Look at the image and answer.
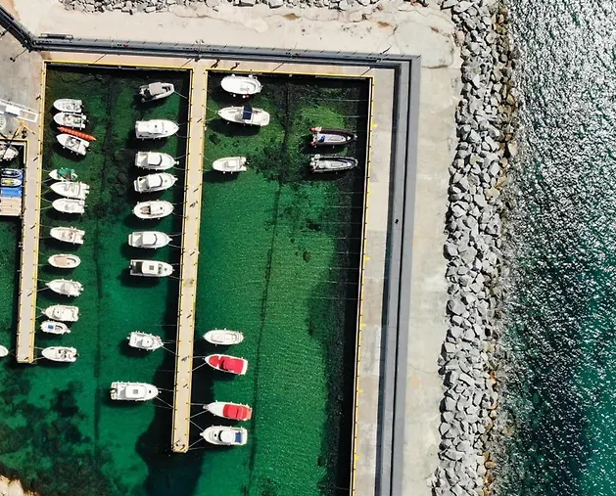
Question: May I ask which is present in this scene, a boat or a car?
boat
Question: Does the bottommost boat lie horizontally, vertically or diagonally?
horizontally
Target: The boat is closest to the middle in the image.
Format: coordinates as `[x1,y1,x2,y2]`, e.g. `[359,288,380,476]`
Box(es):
[311,154,358,171]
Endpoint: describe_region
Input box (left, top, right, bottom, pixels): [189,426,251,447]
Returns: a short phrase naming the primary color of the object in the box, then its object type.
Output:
white boat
